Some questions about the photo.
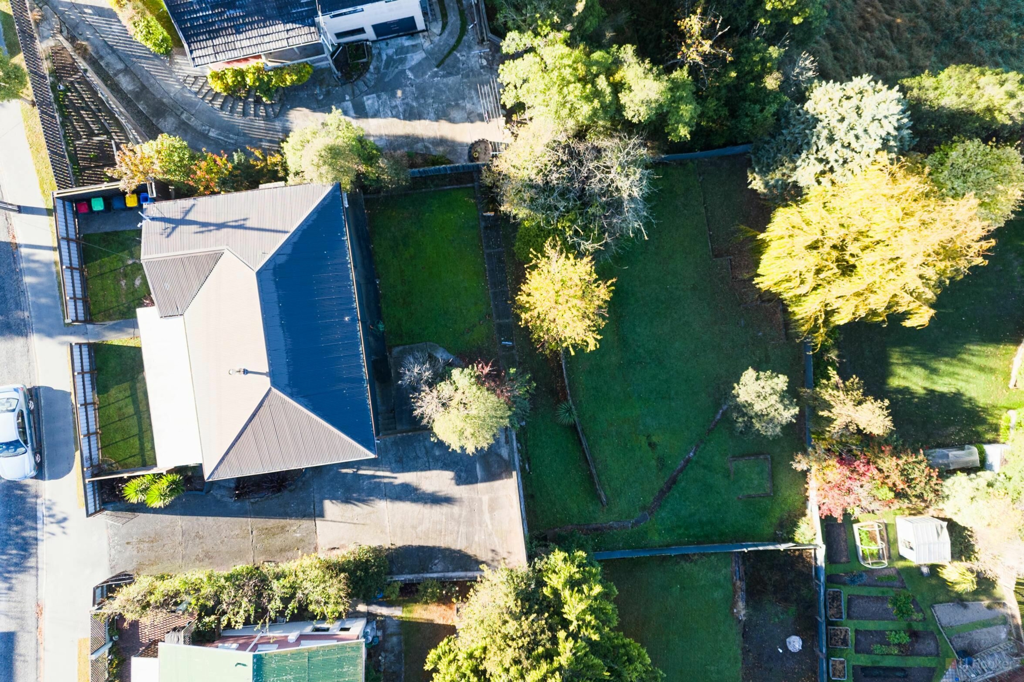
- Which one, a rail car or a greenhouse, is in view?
greenhouse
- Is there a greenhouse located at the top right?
No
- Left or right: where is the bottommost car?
left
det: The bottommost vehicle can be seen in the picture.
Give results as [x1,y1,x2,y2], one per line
[0,386,39,481]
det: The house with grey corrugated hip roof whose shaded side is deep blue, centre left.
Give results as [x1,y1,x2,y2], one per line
[129,180,382,484]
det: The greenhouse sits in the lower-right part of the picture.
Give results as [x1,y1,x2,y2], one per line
[889,520,951,571]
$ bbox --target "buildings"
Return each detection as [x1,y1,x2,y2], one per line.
[131,616,370,682]
[164,0,428,84]
[129,180,382,484]
[889,520,951,571]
